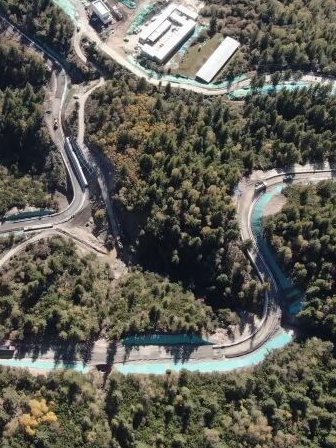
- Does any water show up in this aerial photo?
No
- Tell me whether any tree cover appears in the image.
Yes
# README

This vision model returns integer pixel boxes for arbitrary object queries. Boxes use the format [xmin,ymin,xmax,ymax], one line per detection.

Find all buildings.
[92,0,112,23]
[195,36,240,85]
[139,2,199,63]
[62,138,90,188]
